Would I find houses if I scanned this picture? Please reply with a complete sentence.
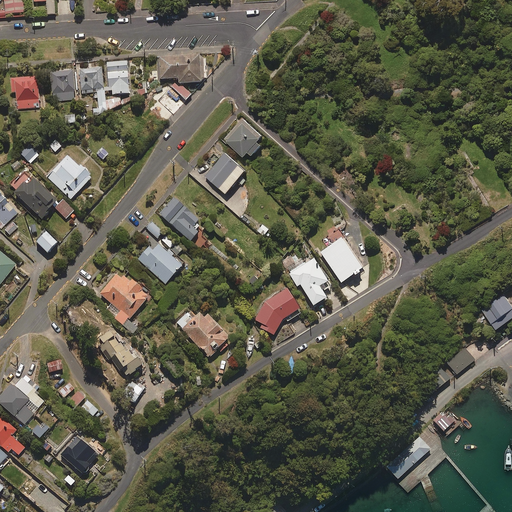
Yes, there's a house down there.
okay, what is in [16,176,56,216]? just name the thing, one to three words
house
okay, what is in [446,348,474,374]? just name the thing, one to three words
building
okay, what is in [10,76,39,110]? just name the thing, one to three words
house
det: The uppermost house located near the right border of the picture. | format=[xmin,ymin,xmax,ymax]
[483,296,512,330]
